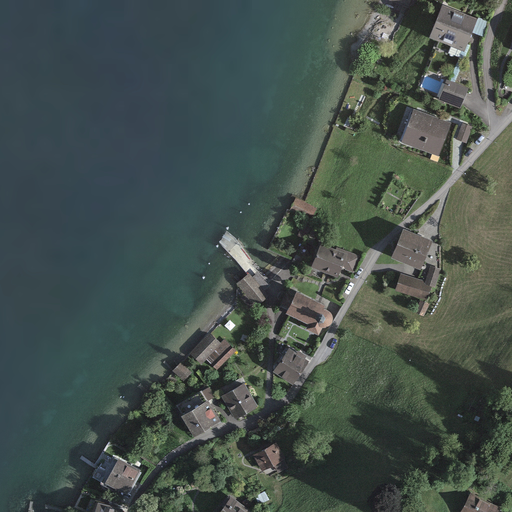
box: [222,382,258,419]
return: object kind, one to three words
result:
house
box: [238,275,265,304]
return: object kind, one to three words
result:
building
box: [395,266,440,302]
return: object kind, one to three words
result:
barn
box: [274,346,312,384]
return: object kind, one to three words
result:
house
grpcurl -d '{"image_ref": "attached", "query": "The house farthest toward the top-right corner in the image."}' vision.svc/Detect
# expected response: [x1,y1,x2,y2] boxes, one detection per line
[429,3,487,58]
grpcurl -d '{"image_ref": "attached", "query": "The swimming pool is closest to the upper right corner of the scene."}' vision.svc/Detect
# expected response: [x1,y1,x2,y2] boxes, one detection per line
[421,76,442,94]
